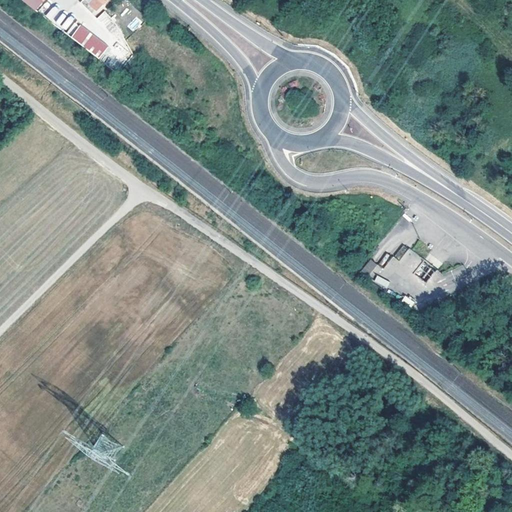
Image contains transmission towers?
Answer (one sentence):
Yes, looking at the shot, I can spot a transmission tower.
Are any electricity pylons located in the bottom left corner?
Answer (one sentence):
Yes, an electricity pylon shows up in the bottom left corner.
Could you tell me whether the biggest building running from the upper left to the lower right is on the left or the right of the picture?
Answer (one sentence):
The biggest building running from the upper left to the lower right sits on the left side.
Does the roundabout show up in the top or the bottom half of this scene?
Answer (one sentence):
You can find the roundabout in the top half.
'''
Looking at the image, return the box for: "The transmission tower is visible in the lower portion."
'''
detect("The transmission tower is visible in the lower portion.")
[63,430,131,476]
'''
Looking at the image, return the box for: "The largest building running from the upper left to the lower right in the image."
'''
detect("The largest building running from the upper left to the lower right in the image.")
[72,28,110,60]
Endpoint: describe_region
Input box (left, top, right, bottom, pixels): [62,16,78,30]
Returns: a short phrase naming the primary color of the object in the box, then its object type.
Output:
white vehicle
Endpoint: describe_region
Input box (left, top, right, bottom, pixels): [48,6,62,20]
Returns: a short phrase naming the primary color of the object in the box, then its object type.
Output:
white vehicle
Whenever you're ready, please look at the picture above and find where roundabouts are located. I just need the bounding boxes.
[251,52,351,152]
